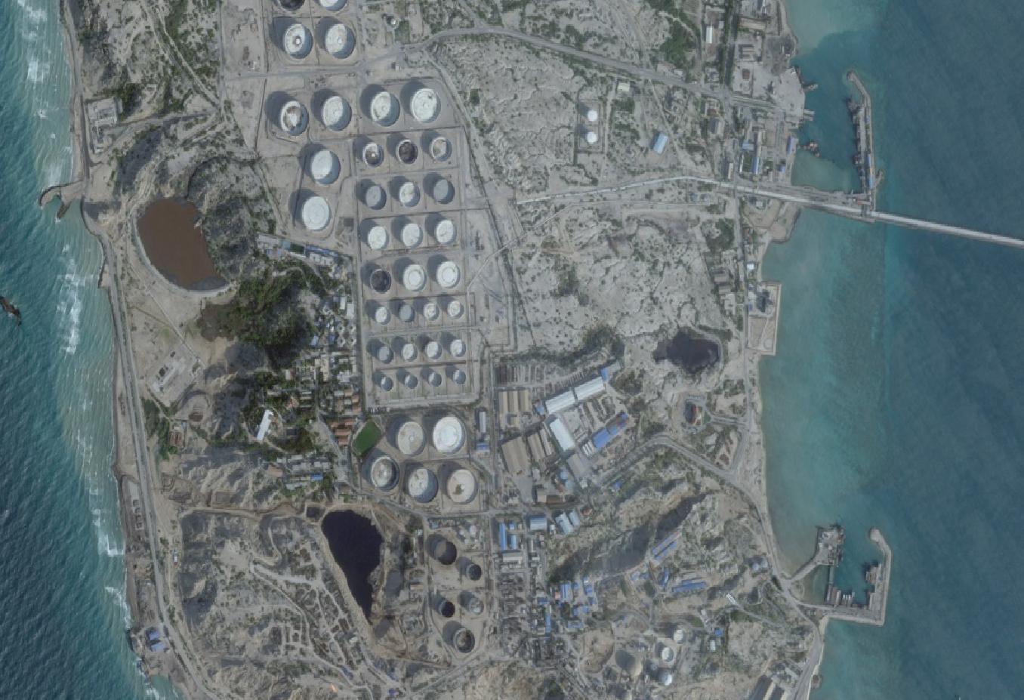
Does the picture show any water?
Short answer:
Yes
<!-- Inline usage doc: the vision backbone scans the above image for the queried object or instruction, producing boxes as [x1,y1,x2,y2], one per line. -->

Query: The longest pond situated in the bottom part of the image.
[324,511,383,620]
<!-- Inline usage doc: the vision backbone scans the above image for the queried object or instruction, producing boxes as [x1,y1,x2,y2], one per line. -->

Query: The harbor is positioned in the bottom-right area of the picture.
[788,525,891,625]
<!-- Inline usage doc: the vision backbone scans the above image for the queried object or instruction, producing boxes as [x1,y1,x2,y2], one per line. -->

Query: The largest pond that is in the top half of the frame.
[139,199,223,286]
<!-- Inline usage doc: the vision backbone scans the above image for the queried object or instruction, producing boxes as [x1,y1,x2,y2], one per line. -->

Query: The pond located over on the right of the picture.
[655,333,718,373]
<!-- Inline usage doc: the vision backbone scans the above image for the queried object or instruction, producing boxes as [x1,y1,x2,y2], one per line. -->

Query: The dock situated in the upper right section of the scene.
[791,71,883,223]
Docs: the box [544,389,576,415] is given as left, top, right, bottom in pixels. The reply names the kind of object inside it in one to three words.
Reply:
building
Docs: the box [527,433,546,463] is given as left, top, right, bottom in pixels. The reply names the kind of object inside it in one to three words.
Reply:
building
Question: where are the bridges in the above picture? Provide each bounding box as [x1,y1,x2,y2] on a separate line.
[868,211,1024,246]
